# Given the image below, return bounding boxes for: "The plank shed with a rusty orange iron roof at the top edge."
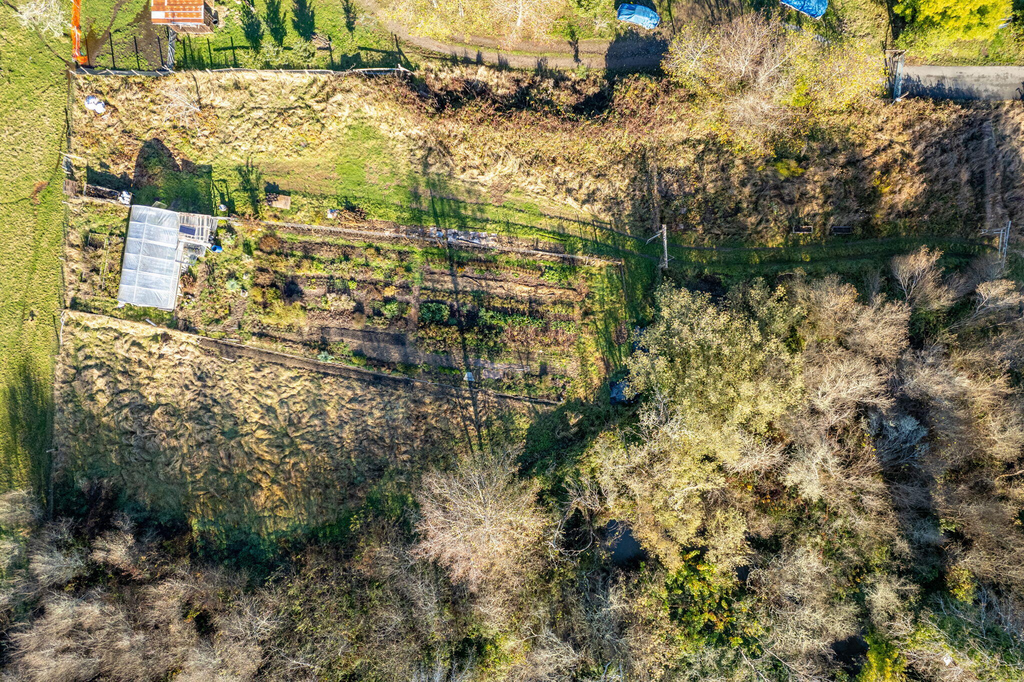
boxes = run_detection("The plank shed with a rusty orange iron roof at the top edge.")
[148,0,215,35]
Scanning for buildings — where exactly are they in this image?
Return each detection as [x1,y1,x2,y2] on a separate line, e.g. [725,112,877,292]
[148,0,215,35]
[122,204,183,310]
